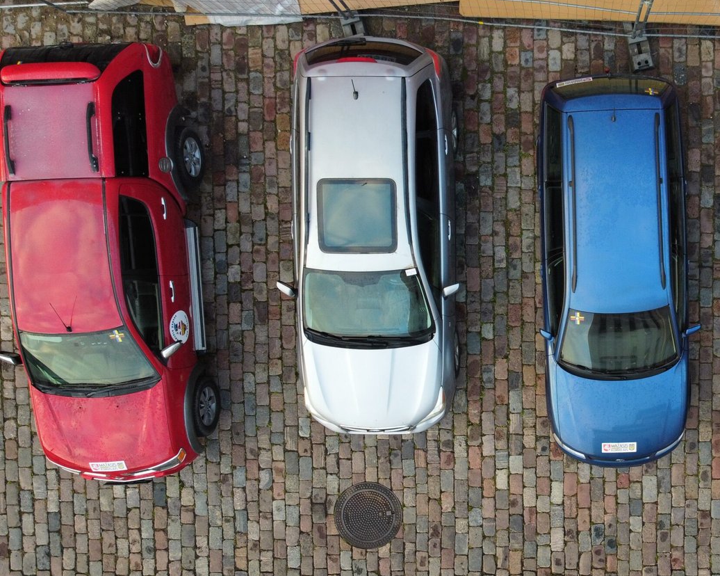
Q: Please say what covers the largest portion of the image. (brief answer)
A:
paved ground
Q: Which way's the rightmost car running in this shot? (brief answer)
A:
from top to bottom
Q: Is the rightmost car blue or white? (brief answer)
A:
blue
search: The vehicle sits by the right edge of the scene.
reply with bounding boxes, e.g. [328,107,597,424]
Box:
[534,66,703,468]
